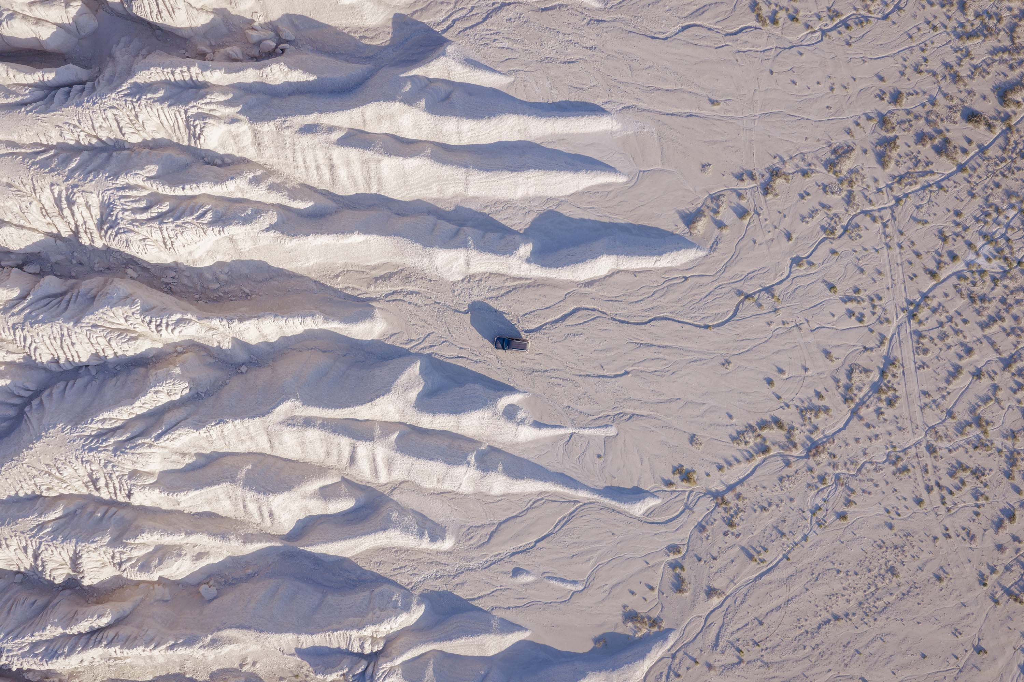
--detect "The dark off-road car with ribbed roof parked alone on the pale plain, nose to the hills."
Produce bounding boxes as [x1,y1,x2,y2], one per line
[492,335,532,353]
